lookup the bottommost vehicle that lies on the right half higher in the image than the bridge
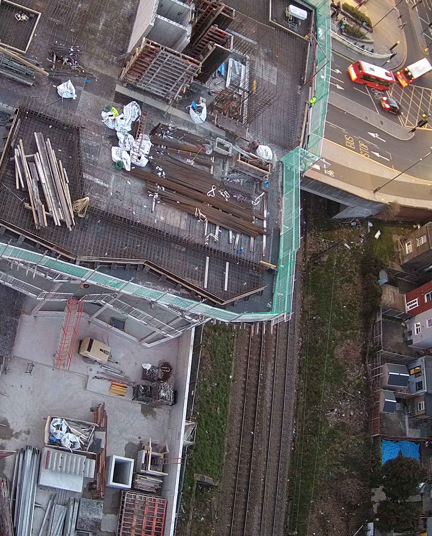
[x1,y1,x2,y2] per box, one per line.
[384,101,406,117]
